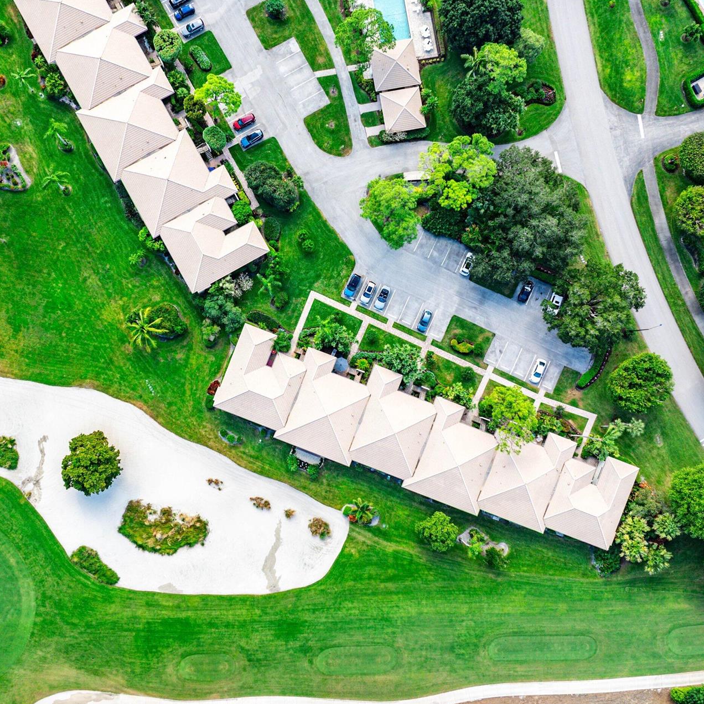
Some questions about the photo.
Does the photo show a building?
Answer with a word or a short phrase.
Yes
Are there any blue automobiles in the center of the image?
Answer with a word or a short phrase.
Yes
